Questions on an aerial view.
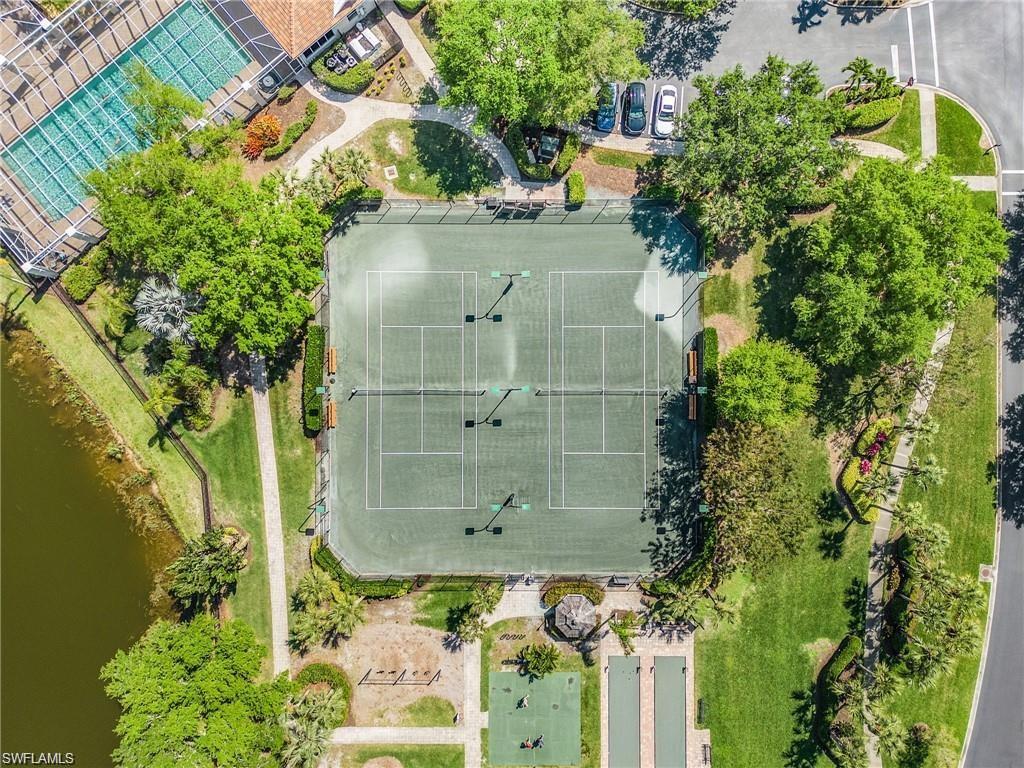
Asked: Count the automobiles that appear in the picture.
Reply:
3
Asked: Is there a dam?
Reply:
No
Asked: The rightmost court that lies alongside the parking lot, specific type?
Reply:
tennis court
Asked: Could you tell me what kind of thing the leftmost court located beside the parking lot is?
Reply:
tennis court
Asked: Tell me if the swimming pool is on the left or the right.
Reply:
left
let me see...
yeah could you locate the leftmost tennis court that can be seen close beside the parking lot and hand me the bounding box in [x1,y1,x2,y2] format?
[329,207,512,575]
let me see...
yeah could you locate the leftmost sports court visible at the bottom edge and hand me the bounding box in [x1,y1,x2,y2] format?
[489,672,581,766]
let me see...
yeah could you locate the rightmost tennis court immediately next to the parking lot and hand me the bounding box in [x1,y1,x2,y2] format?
[512,207,696,575]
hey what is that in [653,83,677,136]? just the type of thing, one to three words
car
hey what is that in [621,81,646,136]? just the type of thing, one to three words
car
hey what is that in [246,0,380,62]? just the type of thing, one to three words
building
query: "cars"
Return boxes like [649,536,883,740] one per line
[621,81,646,136]
[653,83,677,136]
[594,81,618,132]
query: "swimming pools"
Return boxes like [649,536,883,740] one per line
[0,0,253,225]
